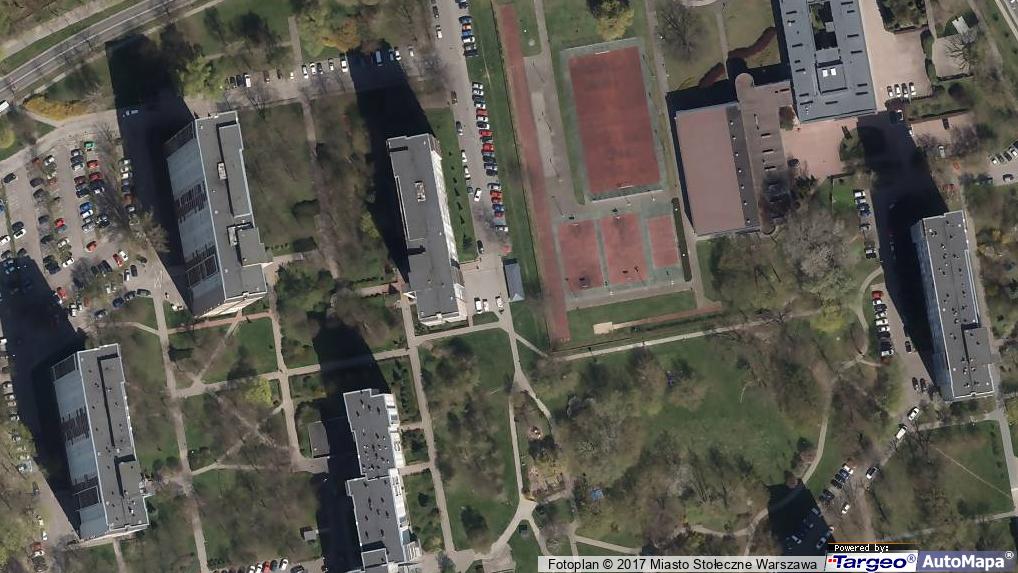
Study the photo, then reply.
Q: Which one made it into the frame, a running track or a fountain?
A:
running track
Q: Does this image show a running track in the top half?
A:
Yes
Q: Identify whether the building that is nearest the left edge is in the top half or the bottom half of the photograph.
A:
bottom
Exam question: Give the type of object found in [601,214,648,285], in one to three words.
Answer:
sports court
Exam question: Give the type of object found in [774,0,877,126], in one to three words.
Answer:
building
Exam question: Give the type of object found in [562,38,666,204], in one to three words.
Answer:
sports court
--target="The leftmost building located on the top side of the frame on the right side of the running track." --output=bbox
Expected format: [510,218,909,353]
[671,102,760,239]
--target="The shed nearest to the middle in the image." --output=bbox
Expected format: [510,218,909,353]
[505,263,524,302]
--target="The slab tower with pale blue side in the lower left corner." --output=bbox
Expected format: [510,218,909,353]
[57,343,149,543]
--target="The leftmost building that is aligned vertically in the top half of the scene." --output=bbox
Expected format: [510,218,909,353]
[175,111,271,312]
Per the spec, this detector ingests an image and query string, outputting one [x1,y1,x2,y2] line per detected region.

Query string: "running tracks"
[501,3,570,340]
